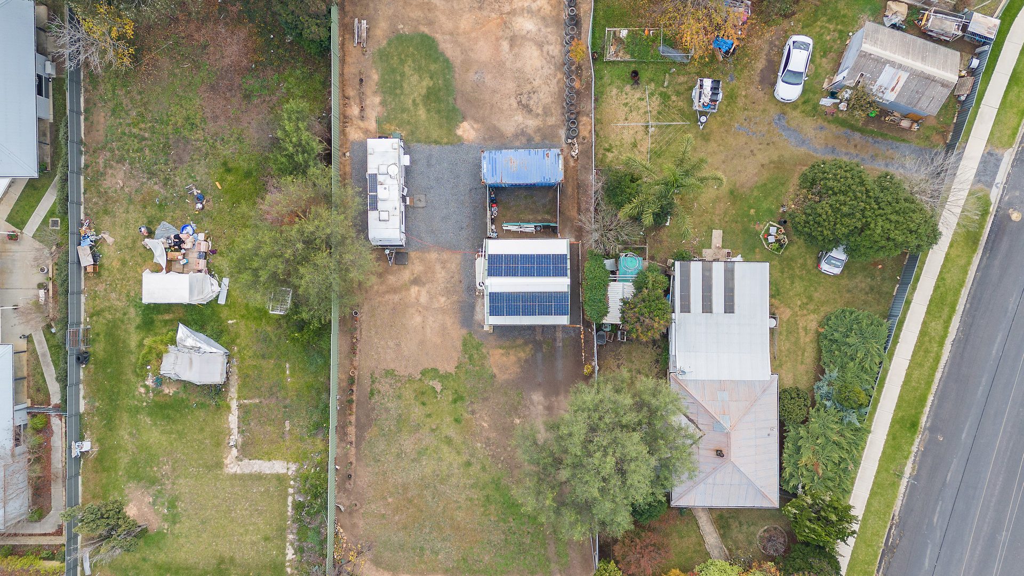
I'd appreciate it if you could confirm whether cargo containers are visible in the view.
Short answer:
Yes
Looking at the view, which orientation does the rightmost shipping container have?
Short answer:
horizontally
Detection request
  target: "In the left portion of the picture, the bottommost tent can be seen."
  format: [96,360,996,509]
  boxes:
[160,321,229,394]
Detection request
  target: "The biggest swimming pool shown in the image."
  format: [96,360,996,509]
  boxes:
[618,253,642,282]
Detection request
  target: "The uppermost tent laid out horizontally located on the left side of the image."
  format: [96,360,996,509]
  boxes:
[128,273,220,305]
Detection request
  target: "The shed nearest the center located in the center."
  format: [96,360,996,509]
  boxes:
[480,237,572,326]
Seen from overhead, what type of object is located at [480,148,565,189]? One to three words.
shipping container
